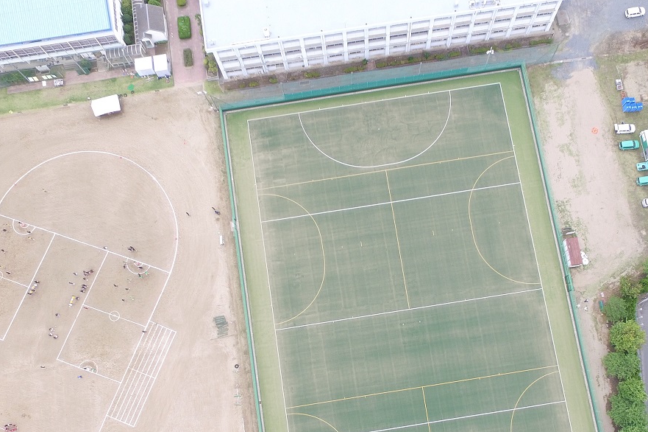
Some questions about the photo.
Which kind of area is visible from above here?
sports ground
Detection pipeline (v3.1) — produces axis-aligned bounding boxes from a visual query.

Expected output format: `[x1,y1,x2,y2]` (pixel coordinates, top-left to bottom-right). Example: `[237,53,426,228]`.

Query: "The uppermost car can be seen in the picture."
[626,5,647,17]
